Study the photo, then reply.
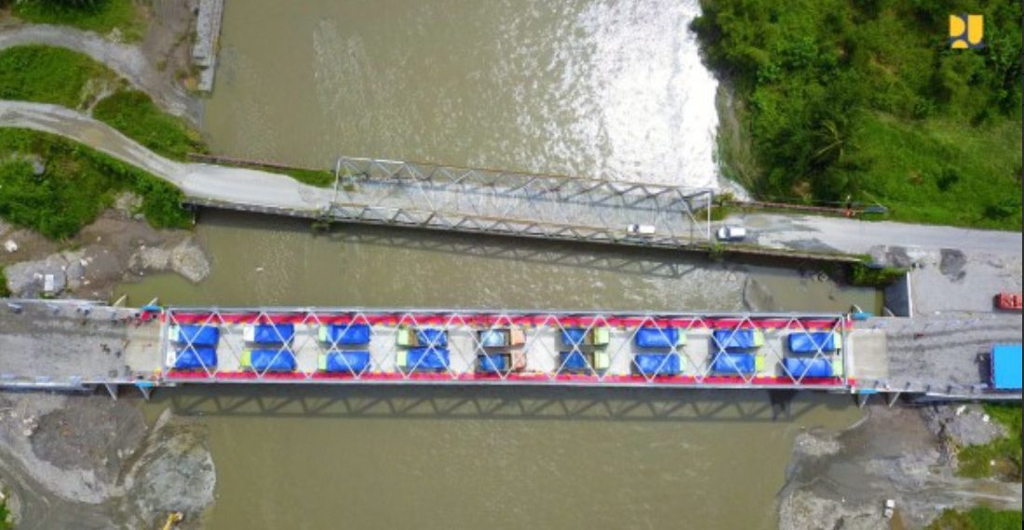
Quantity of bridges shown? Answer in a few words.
2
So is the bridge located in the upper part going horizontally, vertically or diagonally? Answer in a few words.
horizontally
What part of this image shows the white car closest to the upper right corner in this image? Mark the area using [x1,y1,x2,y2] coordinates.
[719,225,747,240]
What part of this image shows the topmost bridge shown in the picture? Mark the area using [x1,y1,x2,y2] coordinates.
[327,156,716,259]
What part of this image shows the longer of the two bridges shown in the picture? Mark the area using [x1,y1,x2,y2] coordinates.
[152,307,858,405]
